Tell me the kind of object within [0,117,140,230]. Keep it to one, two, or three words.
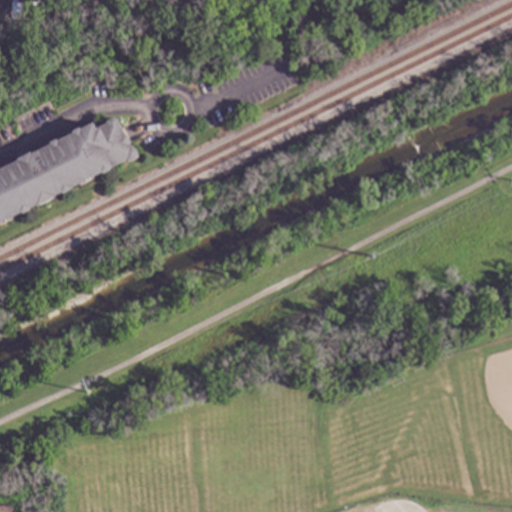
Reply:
building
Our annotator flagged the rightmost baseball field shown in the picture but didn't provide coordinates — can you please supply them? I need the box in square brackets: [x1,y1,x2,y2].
[485,350,512,430]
